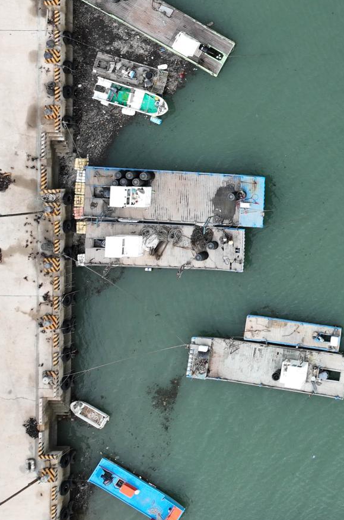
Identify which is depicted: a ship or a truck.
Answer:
ship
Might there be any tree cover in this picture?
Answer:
No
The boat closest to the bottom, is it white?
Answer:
No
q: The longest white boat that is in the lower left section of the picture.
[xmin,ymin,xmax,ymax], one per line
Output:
[69,400,110,428]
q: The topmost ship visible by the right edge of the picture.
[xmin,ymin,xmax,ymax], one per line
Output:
[244,315,343,352]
